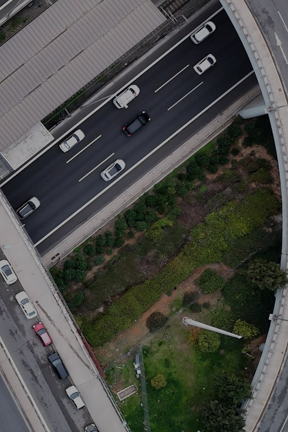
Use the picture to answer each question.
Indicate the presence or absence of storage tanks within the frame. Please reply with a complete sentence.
No, no storage tank is visible in the scene.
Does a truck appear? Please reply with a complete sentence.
No, the picture doesn't show any truck.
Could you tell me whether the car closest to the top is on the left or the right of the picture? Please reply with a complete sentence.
The car closest to the top sits on the right side.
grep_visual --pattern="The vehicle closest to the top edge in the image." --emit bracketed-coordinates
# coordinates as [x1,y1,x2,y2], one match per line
[187,18,218,48]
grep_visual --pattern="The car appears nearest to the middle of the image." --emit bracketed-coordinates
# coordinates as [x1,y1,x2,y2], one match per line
[98,157,128,184]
